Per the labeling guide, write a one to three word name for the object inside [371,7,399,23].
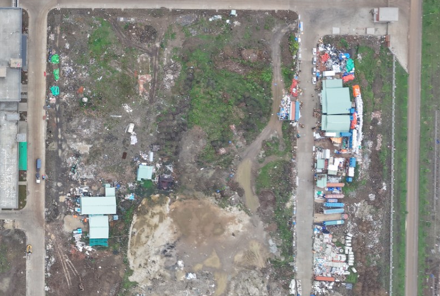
building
